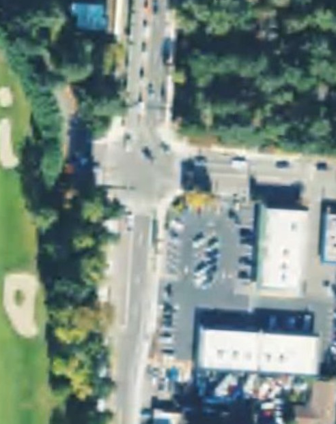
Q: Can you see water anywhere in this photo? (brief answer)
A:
No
